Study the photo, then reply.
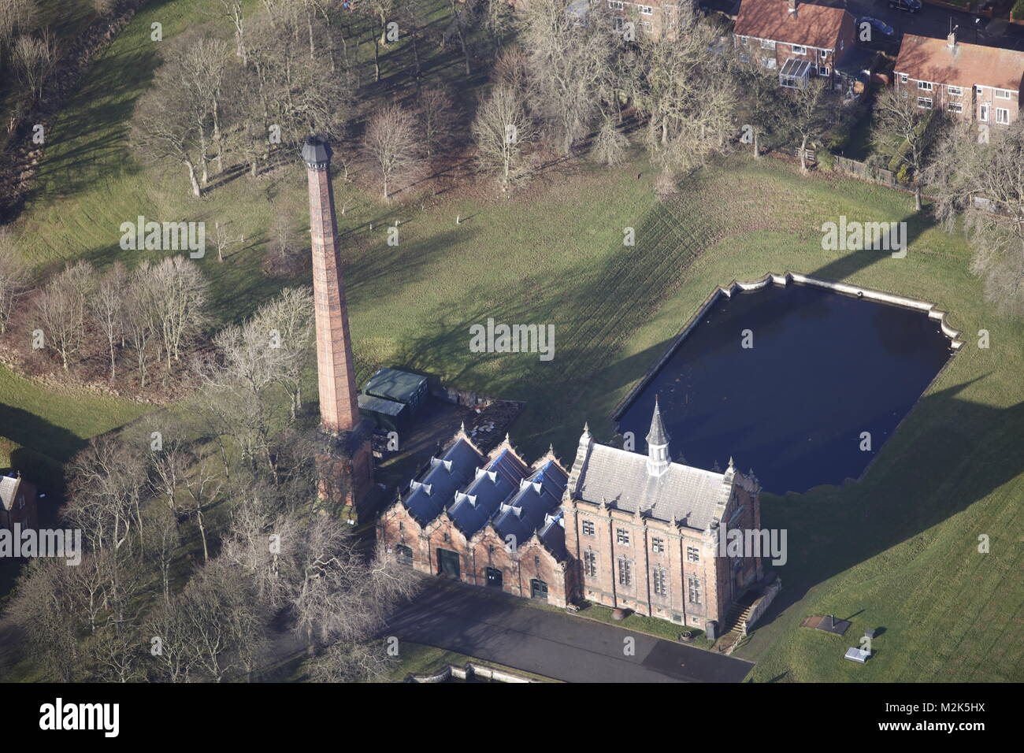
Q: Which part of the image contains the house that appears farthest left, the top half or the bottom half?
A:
bottom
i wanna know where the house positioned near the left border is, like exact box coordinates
[0,461,41,545]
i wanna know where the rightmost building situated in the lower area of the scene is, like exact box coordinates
[561,391,762,636]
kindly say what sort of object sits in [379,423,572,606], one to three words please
building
